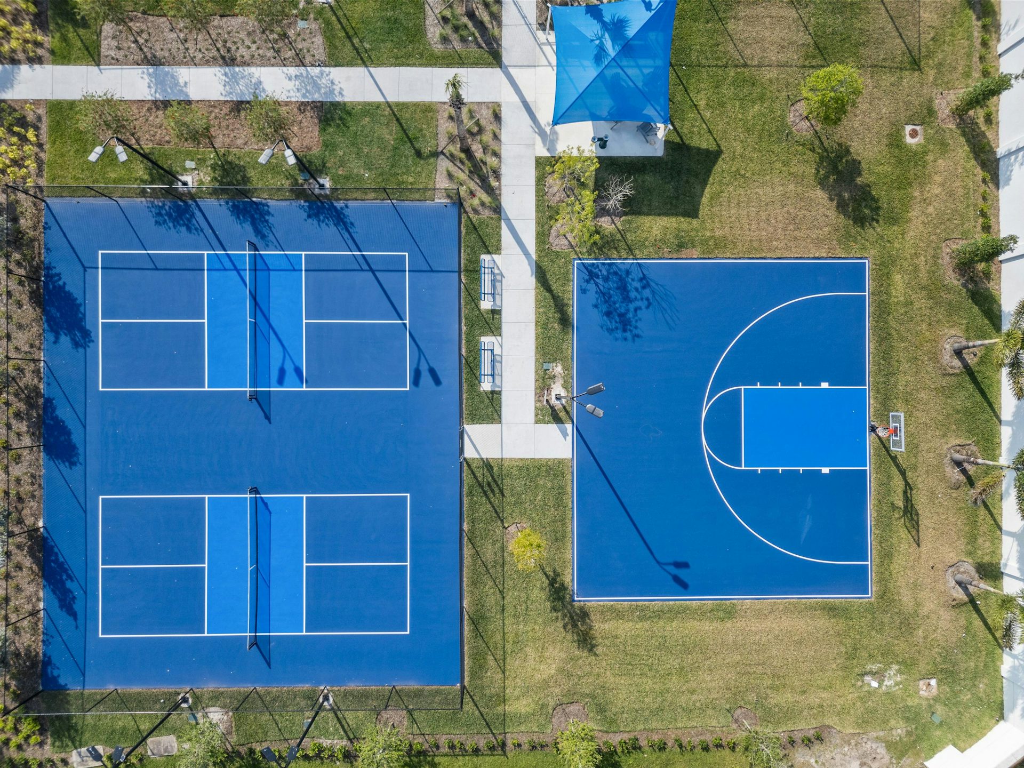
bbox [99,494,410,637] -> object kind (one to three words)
sports court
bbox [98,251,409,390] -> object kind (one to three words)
sports court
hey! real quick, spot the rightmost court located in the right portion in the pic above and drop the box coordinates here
[572,258,873,603]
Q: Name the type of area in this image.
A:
sports ground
